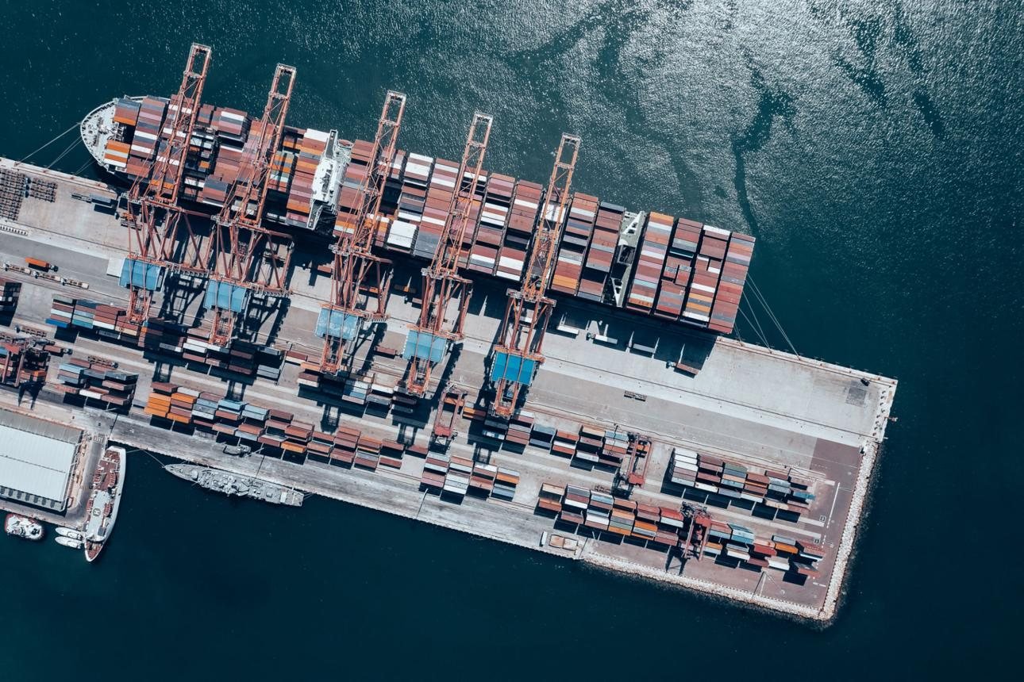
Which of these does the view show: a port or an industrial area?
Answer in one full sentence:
What you see here is a port.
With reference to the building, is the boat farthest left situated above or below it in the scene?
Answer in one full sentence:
As seen from overhead, the boat farthest left falls below the building in the picture.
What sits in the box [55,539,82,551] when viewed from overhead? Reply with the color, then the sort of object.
white boat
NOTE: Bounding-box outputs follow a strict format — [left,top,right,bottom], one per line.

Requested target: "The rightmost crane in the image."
[673,505,716,567]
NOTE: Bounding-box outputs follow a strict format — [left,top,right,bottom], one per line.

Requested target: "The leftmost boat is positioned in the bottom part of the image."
[4,511,46,542]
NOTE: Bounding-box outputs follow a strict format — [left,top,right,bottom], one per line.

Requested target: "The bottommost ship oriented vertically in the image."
[80,444,127,563]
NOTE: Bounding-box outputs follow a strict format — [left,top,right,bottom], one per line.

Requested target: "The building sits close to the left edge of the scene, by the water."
[0,405,88,511]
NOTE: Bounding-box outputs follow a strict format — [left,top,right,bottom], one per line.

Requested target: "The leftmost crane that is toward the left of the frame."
[0,339,51,395]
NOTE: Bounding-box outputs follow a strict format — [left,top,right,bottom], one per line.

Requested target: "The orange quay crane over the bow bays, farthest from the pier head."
[123,38,223,327]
